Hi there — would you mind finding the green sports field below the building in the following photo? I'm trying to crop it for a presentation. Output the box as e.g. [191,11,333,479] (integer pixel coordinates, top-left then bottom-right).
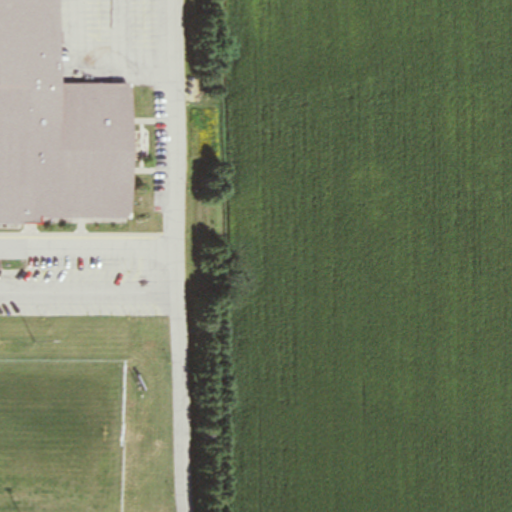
[0,360,124,512]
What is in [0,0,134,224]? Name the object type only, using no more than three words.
building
